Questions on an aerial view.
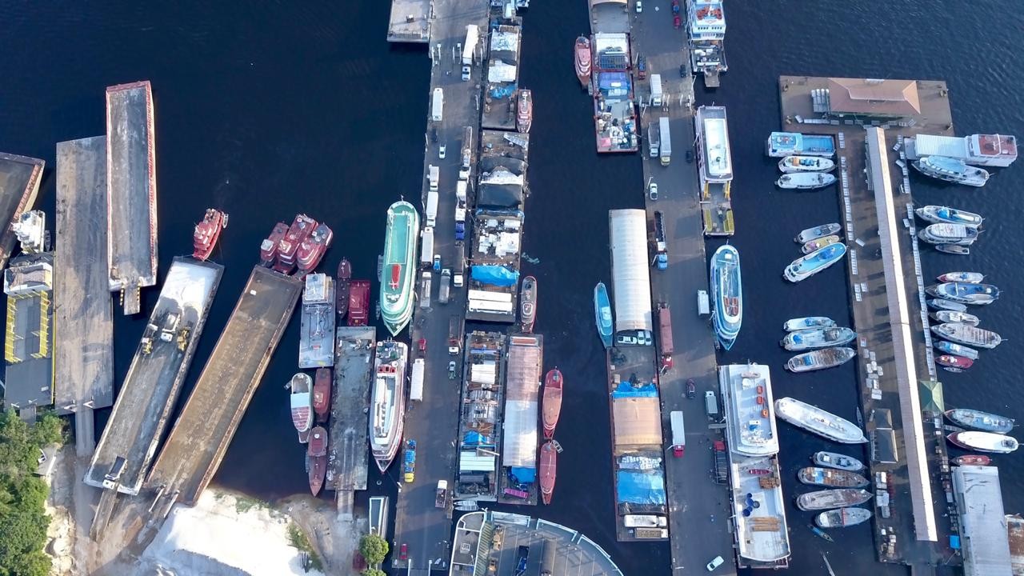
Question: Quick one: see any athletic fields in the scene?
No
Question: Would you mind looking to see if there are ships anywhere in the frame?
Yes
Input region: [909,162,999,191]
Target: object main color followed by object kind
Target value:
blue boat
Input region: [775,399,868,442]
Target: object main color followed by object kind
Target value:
white boat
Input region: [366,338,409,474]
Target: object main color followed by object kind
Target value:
white ship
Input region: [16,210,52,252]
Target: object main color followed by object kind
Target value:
white boat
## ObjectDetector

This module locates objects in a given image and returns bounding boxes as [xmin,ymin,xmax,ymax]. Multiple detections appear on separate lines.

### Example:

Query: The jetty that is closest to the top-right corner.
[778,75,955,139]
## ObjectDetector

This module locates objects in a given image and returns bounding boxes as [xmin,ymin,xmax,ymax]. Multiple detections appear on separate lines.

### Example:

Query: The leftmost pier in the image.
[367,497,388,541]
